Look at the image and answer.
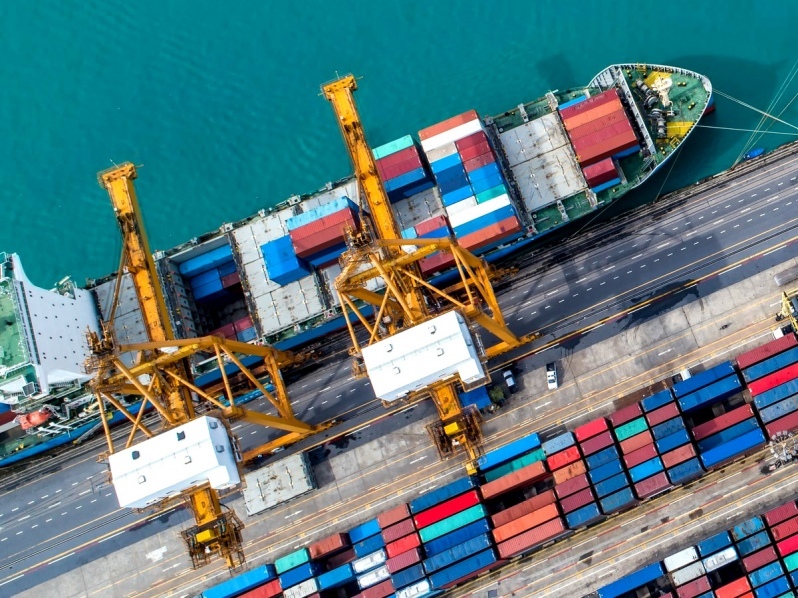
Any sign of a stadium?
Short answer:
No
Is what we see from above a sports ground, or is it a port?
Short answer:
port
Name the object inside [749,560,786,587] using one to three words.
shipping container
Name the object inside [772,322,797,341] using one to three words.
vehicle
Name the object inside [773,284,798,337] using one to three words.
crane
